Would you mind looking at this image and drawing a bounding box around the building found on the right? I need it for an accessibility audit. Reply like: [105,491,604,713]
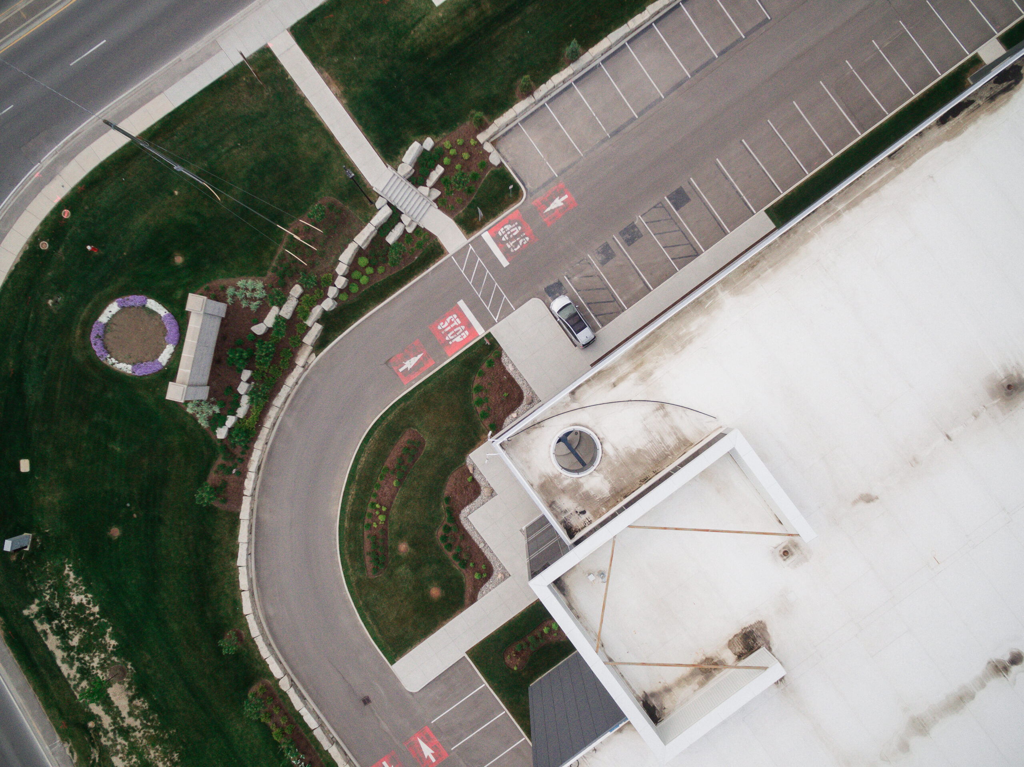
[484,35,1024,767]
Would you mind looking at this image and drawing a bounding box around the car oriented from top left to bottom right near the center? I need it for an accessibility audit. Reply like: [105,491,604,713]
[550,295,597,351]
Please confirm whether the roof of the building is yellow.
No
